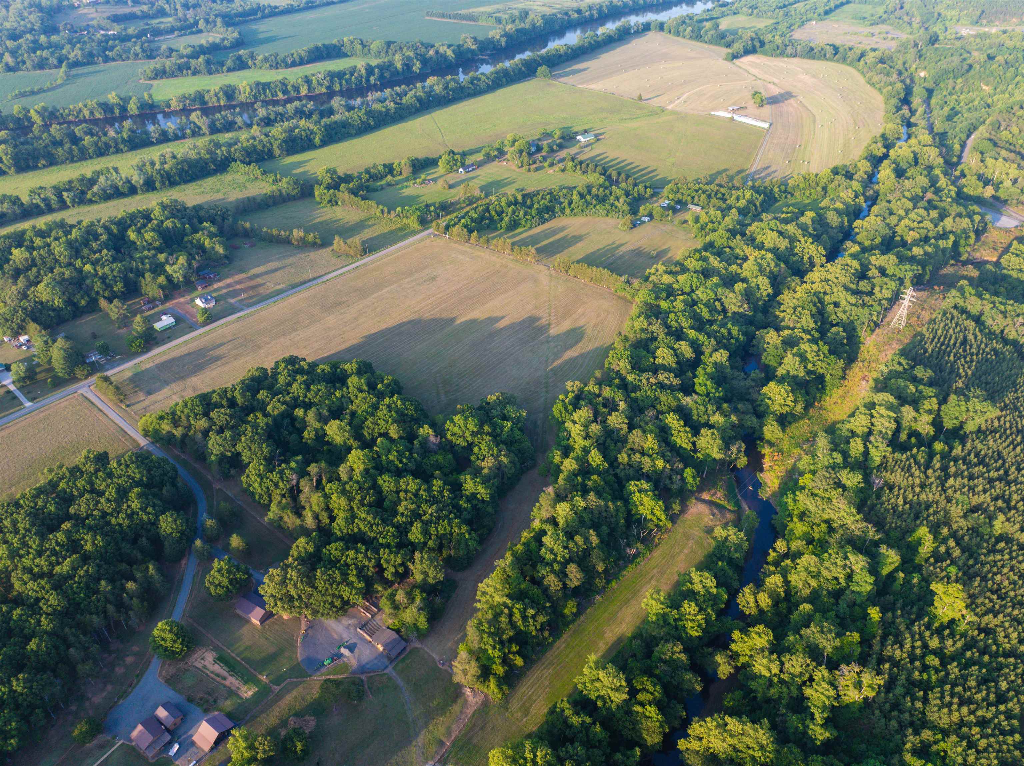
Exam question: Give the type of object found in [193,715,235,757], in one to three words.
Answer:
barn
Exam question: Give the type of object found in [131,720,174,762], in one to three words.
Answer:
house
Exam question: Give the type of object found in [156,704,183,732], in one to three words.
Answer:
house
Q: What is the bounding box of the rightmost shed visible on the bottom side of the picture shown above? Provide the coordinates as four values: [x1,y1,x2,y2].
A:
[363,625,413,671]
